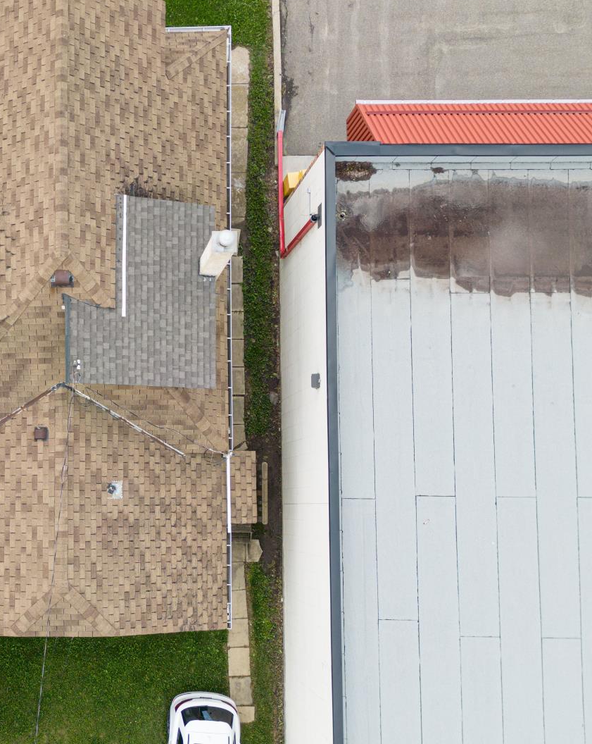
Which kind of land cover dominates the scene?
buildings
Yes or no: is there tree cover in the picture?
No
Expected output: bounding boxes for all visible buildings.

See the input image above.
[272,102,592,744]
[0,0,237,641]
